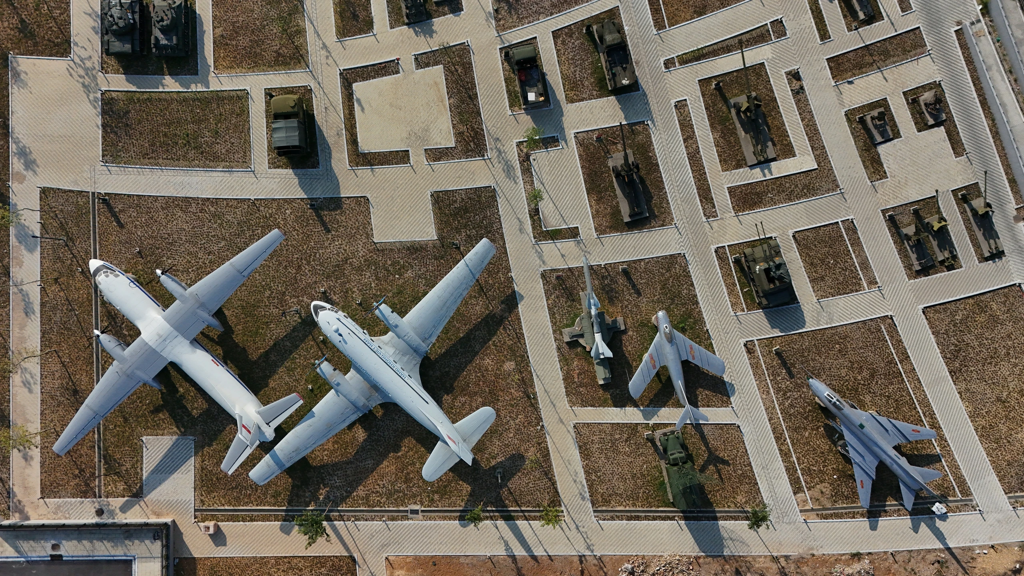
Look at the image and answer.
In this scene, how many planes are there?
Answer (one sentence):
There are 4 planes in the image.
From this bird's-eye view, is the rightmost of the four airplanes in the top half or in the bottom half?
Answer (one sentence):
It is in the bottom half that the rightmost of the four airplanes appears.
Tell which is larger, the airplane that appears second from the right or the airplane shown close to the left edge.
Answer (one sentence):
The airplane shown close to the left edge covers a greater area than the airplane that appears second from the right.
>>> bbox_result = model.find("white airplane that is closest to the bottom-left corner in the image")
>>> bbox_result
[50,228,303,483]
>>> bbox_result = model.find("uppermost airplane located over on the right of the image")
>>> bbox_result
[621,310,729,430]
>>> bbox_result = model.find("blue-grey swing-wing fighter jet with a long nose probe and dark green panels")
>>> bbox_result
[802,366,952,518]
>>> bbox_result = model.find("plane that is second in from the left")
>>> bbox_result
[251,241,500,489]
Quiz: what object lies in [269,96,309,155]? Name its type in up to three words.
work vehicle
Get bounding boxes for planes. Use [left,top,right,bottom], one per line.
[621,310,729,430]
[802,366,952,518]
[251,241,500,489]
[50,228,303,483]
